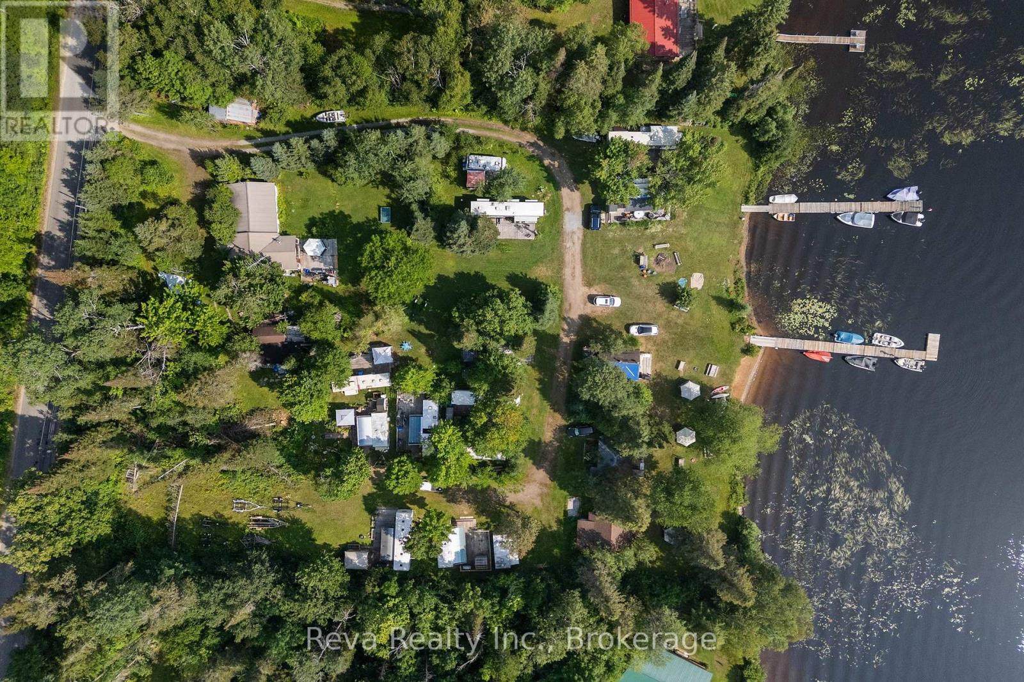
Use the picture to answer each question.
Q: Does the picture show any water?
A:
Yes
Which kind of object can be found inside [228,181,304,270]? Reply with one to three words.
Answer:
house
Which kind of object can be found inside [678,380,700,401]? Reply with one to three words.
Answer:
gazebo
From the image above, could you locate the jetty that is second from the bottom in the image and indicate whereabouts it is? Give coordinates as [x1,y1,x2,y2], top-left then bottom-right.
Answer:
[742,201,923,214]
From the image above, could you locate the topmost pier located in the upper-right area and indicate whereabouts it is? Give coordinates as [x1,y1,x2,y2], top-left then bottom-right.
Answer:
[778,29,866,52]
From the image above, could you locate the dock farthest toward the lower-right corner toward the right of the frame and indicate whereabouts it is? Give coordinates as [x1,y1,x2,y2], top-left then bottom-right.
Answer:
[749,334,939,362]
